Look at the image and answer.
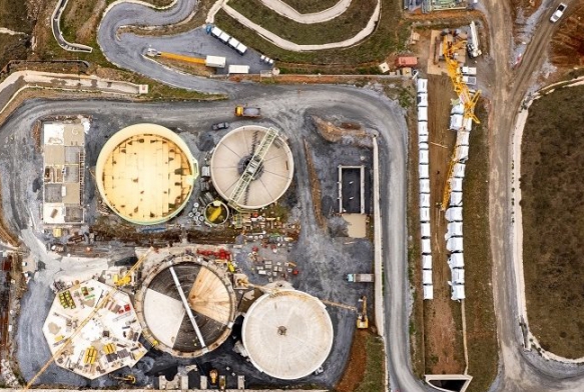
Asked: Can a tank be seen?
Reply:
Yes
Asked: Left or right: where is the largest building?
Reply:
left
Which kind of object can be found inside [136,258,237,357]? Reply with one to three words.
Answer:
storage tank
